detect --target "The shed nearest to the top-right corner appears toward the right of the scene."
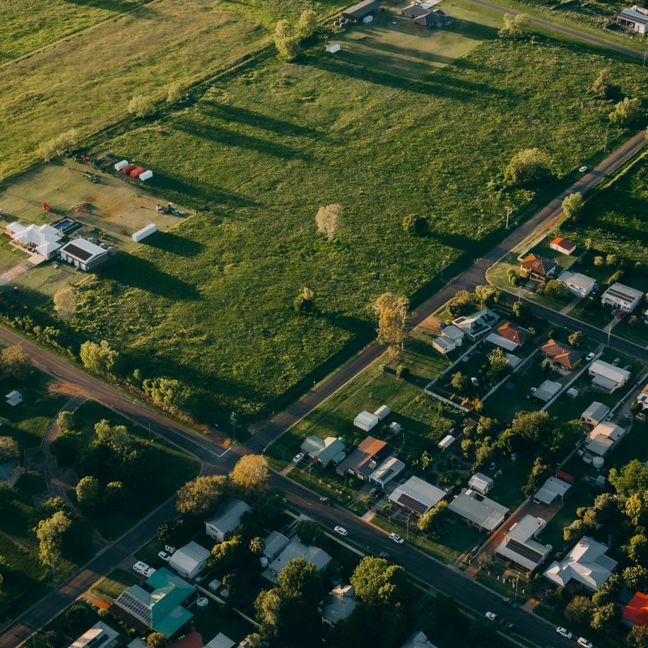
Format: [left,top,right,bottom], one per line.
[616,9,648,31]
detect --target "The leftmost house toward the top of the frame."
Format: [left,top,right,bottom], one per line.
[4,221,62,260]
